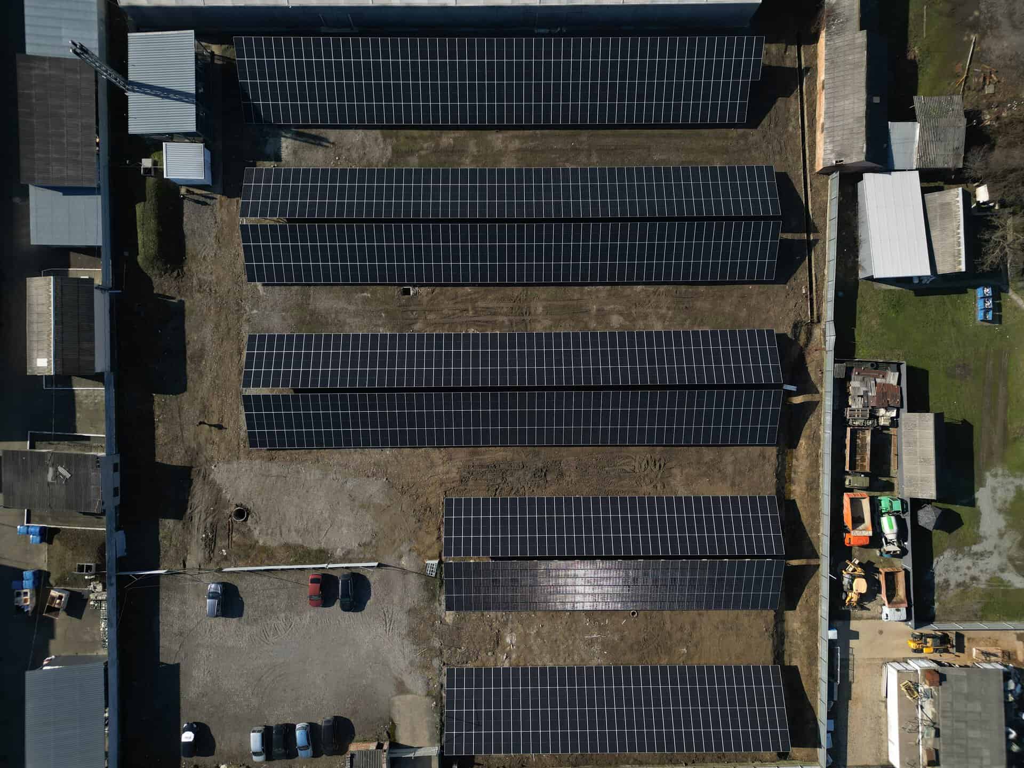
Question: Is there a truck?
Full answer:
Yes, the photo shows a truck.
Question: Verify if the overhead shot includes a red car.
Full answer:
Yes, the picture does show a red car.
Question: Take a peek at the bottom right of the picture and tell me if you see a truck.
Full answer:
Yes, you'll find a truck at the bottom right of the picture.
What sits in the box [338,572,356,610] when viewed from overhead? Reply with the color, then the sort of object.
black car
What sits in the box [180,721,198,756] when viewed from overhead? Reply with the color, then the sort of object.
black car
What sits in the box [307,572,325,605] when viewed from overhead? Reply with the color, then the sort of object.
red car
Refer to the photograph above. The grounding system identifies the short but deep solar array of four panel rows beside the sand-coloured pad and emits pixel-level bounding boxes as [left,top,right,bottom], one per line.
[444,665,790,754]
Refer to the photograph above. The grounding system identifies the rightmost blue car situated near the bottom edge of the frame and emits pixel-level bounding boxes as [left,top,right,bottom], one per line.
[295,721,313,756]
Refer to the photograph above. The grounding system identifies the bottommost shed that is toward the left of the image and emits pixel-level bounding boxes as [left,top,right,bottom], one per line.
[348,740,391,768]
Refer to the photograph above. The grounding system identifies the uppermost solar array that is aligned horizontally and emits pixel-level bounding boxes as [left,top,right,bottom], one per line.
[234,36,764,123]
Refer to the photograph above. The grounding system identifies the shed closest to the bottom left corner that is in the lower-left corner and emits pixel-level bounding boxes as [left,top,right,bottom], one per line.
[25,652,118,768]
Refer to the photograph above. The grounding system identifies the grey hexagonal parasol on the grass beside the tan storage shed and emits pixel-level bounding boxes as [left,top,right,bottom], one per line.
[914,501,944,529]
